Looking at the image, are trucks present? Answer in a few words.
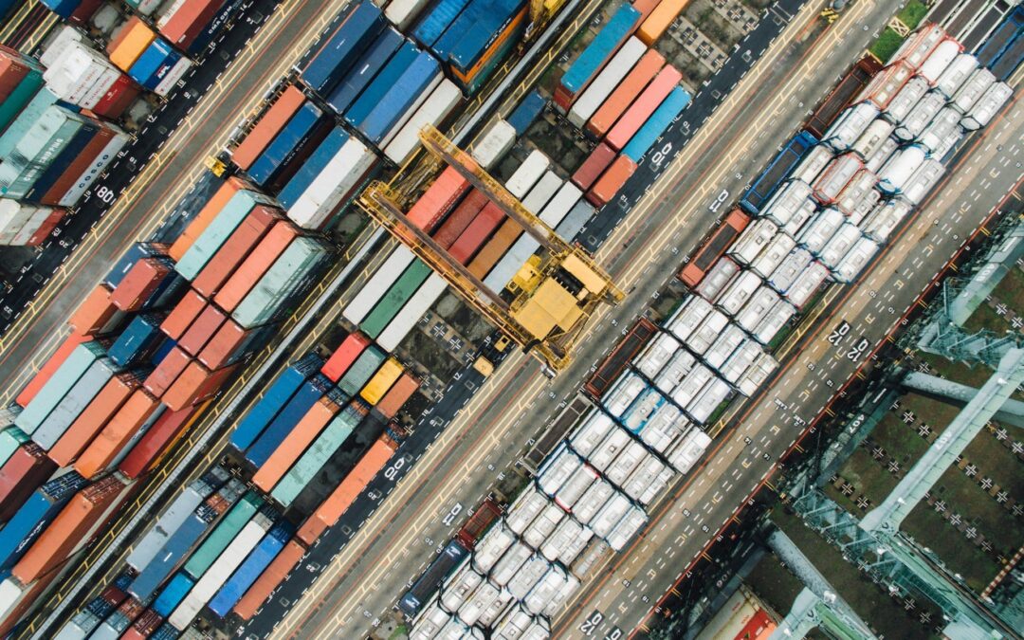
Yes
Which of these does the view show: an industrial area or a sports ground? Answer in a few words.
industrial area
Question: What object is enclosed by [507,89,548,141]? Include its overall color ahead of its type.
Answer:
blue shipping container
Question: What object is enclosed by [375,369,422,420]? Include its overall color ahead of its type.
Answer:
red shipping container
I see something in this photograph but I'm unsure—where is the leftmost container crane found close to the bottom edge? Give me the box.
[656,486,891,640]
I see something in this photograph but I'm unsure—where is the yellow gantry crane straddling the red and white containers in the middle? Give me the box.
[348,111,630,376]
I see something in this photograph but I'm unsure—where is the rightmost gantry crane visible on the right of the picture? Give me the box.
[899,197,1024,396]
